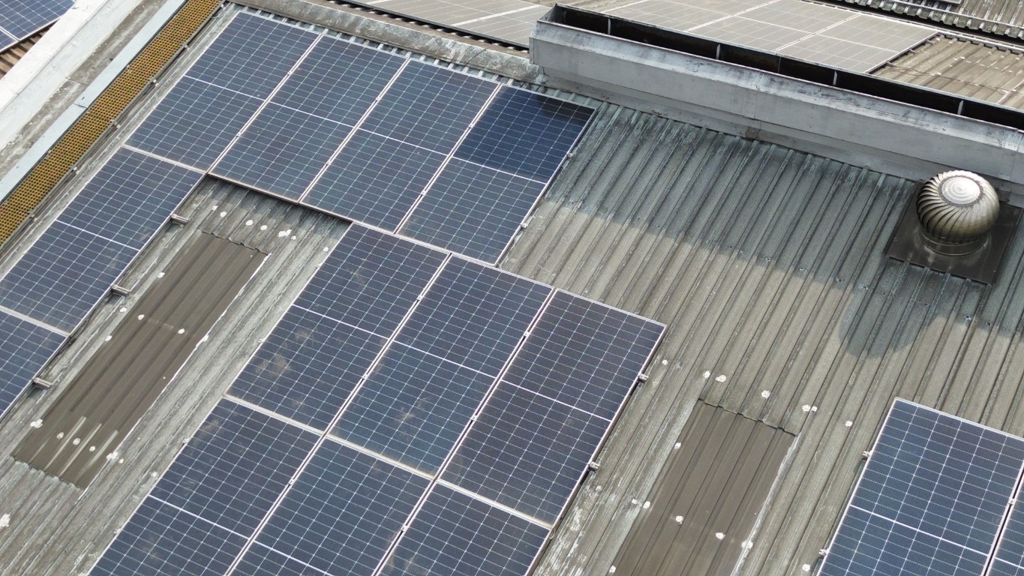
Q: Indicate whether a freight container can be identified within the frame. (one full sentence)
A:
No, no freight container can be seen from above.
